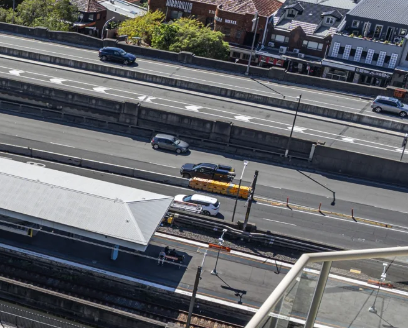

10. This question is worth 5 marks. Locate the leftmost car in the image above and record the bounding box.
[98,47,137,66]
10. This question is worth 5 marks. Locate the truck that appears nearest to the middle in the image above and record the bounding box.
[183,161,237,184]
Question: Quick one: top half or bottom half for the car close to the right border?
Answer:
top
